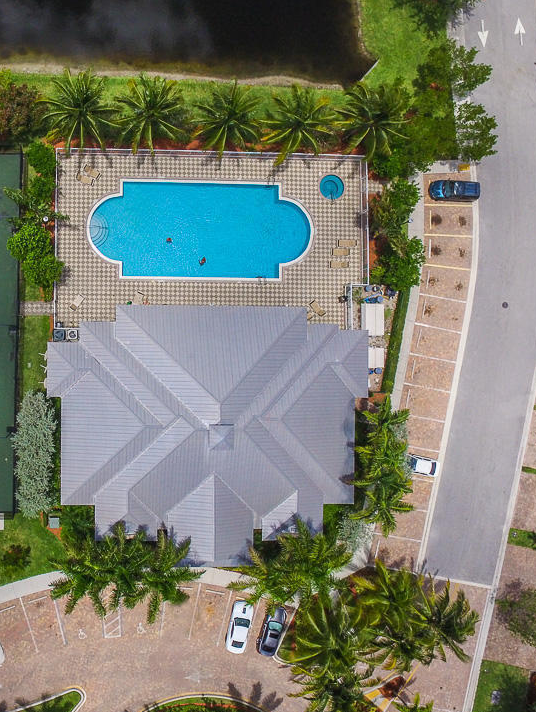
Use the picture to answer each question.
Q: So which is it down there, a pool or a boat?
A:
pool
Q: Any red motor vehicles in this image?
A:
No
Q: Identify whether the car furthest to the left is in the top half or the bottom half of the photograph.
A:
bottom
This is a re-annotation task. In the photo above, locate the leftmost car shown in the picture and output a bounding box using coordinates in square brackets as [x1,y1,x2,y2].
[226,598,254,655]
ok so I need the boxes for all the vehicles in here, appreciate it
[226,598,254,655]
[426,177,482,203]
[256,604,286,658]
[390,449,441,476]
